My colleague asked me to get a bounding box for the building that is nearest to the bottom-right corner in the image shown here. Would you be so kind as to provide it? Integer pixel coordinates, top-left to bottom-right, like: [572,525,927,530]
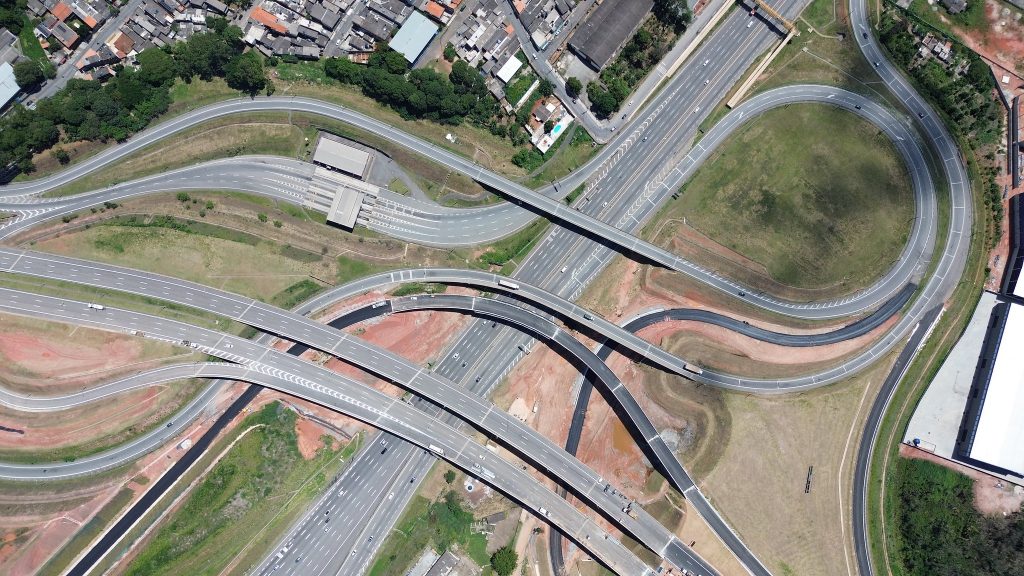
[954,302,1024,475]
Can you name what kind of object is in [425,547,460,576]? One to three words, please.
shed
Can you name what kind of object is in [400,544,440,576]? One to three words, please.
shed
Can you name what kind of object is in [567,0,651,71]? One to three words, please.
building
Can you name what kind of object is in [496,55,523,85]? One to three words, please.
house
